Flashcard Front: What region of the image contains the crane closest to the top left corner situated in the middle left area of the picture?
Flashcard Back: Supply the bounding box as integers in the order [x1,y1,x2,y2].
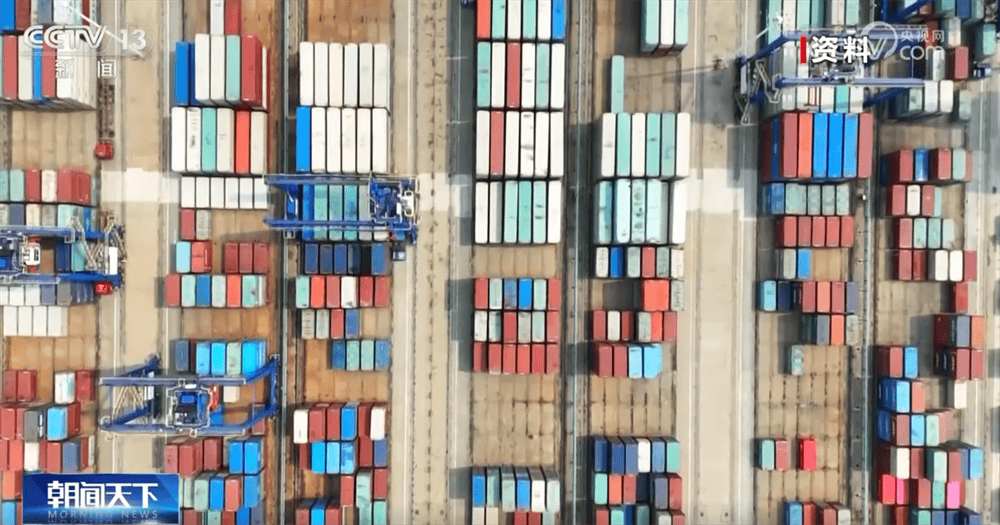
[0,214,116,290]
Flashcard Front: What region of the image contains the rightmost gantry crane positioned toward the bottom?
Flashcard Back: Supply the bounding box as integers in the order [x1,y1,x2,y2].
[100,346,277,435]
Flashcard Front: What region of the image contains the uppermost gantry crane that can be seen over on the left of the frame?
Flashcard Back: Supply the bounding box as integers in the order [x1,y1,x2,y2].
[260,168,416,245]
